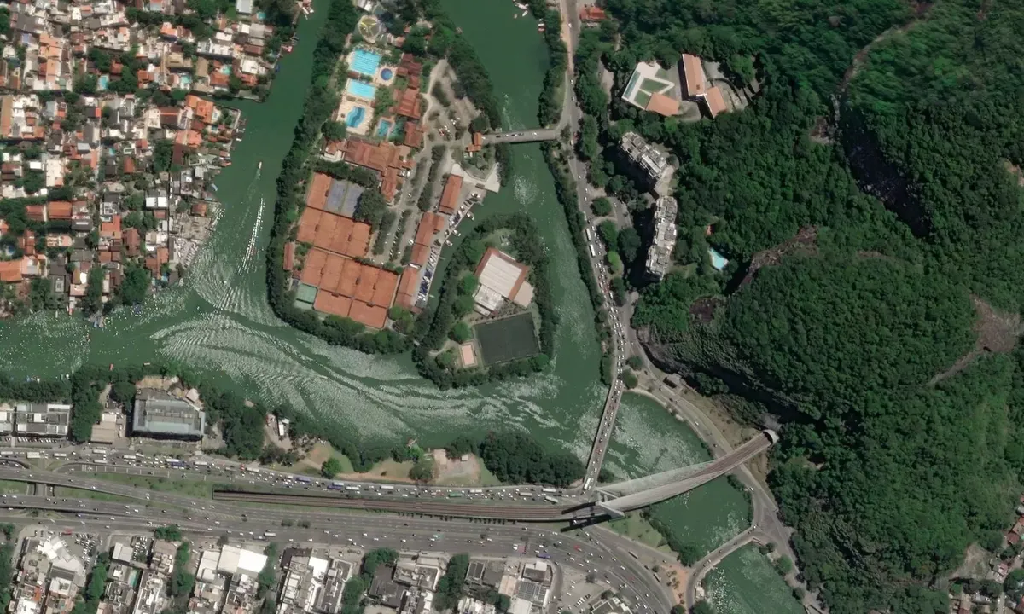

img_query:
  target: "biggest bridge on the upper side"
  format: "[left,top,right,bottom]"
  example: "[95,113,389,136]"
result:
[481,129,562,144]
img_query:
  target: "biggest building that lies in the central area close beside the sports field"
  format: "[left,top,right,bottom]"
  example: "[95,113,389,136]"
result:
[475,247,530,303]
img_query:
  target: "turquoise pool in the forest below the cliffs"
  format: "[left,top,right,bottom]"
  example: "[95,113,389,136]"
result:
[710,249,726,269]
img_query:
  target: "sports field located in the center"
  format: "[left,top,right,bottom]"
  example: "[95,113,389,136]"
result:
[476,313,540,365]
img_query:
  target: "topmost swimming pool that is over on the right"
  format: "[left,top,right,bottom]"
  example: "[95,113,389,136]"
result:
[623,70,641,99]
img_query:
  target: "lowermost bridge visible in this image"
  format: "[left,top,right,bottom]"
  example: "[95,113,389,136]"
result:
[683,524,763,614]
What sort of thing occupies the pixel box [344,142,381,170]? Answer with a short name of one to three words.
building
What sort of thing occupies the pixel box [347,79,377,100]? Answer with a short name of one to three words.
swimming pool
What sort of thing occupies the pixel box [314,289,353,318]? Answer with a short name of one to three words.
tennis court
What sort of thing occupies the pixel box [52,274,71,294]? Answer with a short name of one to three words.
house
